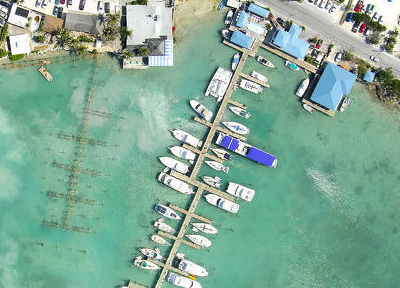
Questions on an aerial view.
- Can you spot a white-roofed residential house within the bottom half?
No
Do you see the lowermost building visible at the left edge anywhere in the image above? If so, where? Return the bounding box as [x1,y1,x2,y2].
[9,34,31,56]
